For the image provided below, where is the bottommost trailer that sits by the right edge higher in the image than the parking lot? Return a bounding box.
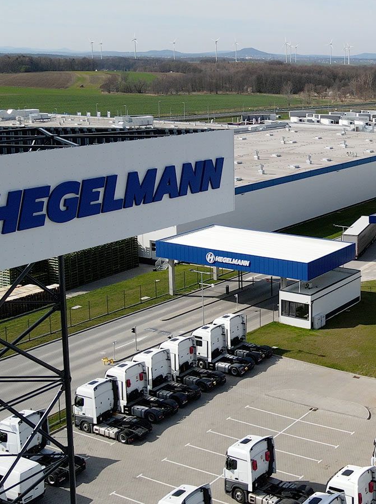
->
[343,214,376,259]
